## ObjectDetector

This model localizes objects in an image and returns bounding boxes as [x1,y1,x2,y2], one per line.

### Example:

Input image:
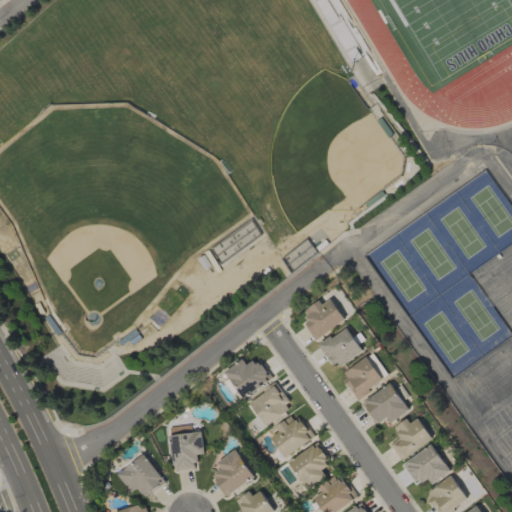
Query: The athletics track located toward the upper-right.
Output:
[344,0,512,128]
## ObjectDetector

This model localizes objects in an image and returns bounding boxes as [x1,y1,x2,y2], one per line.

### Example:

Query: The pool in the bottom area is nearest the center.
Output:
[218,382,234,402]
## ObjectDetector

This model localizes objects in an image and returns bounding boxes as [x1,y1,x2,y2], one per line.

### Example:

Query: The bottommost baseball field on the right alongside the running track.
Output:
[272,70,405,231]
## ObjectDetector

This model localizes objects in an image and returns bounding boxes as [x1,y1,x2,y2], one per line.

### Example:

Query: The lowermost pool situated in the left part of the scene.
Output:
[107,498,128,510]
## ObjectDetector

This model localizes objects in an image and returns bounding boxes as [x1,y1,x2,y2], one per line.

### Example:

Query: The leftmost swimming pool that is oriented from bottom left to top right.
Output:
[123,440,140,460]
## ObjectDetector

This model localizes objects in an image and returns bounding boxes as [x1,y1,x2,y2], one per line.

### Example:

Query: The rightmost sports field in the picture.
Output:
[375,0,512,94]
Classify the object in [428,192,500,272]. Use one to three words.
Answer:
tennis court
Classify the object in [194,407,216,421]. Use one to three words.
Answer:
swimming pool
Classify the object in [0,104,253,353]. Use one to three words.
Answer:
baseball field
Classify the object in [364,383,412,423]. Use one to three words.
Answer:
house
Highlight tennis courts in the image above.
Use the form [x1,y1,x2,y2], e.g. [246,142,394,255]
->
[441,273,512,354]
[428,192,500,272]
[368,234,440,316]
[398,213,470,294]
[458,170,512,251]
[410,294,484,376]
